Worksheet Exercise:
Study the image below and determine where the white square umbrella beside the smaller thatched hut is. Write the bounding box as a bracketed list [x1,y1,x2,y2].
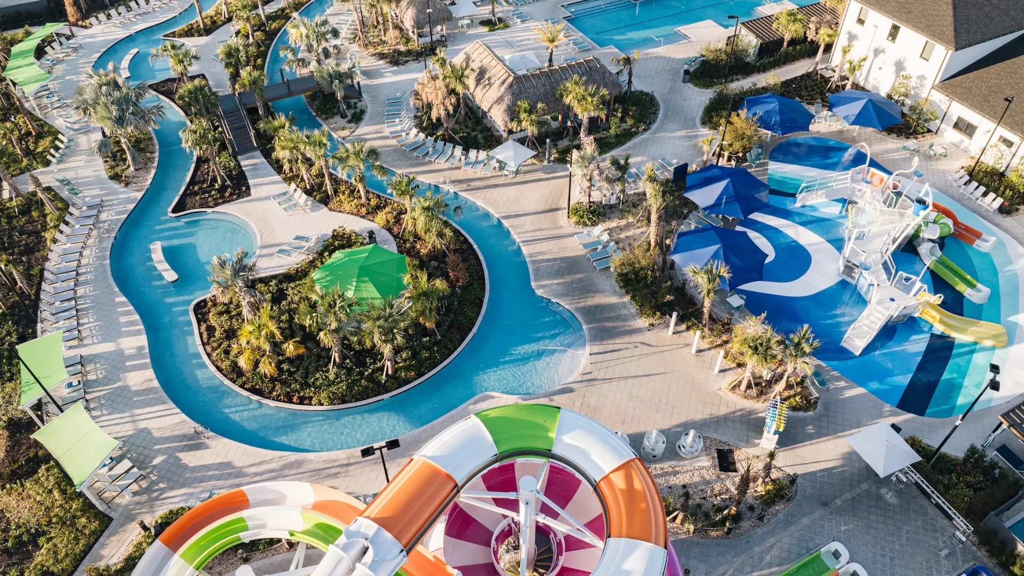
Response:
[444,1,487,41]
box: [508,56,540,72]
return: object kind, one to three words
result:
umbrella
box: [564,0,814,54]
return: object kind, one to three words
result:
swimming pool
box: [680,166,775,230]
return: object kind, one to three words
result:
umbrella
